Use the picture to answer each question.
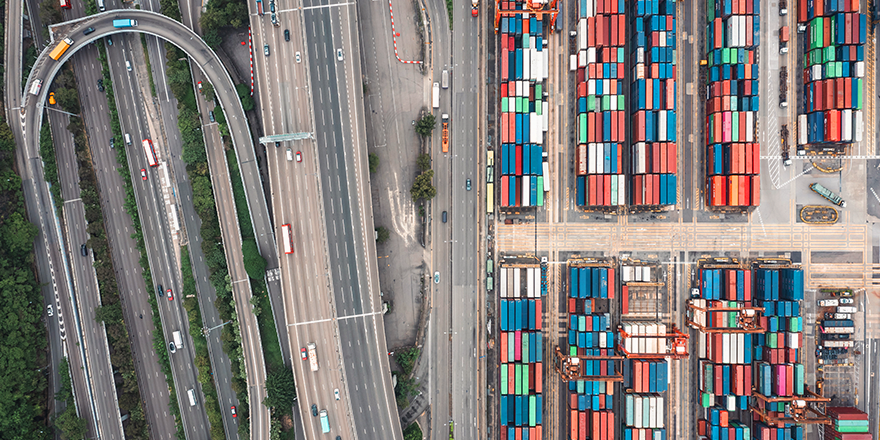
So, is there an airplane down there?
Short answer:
No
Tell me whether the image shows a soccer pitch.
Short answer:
No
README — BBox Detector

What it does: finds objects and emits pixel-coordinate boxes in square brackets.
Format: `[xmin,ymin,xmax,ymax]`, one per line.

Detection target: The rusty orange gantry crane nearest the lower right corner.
[748,383,833,425]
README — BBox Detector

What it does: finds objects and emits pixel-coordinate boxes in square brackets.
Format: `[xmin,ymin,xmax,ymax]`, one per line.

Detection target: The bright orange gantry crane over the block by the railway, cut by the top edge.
[494,0,560,29]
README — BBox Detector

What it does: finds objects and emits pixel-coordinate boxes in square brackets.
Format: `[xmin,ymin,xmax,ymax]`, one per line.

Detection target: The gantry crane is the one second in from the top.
[687,298,767,333]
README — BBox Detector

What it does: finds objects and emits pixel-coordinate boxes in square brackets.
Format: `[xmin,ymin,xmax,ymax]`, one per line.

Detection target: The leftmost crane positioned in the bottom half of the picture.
[559,343,625,382]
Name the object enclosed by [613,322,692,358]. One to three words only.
container crane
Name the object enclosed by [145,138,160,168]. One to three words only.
vehicle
